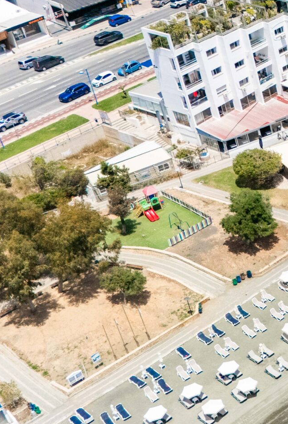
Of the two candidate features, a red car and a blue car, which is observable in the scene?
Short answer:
blue car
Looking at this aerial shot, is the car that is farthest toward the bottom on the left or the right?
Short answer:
left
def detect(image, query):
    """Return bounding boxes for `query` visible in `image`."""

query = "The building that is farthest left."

[0,10,47,56]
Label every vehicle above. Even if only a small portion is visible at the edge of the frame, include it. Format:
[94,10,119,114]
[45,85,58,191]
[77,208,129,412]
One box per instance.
[116,58,145,75]
[28,51,69,71]
[0,108,34,130]
[7,51,38,71]
[106,12,133,25]
[183,0,210,8]
[90,69,120,87]
[56,80,93,101]
[91,29,124,44]
[165,0,184,8]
